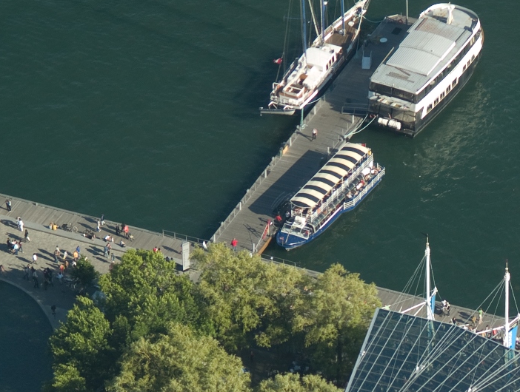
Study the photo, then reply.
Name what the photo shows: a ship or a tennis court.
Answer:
ship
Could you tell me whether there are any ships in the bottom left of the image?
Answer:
No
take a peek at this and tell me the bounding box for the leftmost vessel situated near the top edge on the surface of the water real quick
[264,0,370,118]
